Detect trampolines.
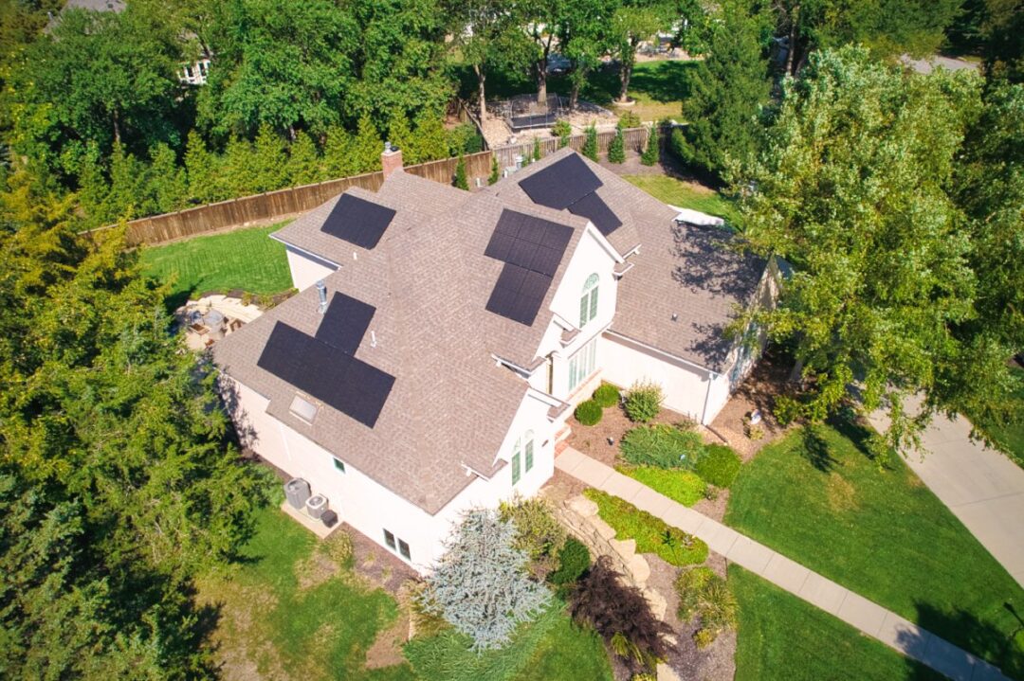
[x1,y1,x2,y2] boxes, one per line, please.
[508,95,566,136]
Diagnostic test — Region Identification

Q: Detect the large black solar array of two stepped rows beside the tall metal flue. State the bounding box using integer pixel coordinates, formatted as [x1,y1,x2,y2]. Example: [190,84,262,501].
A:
[254,290,393,426]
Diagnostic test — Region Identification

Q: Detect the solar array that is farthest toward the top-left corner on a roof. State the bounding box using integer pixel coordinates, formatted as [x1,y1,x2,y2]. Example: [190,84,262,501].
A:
[319,191,394,247]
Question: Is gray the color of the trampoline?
Yes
